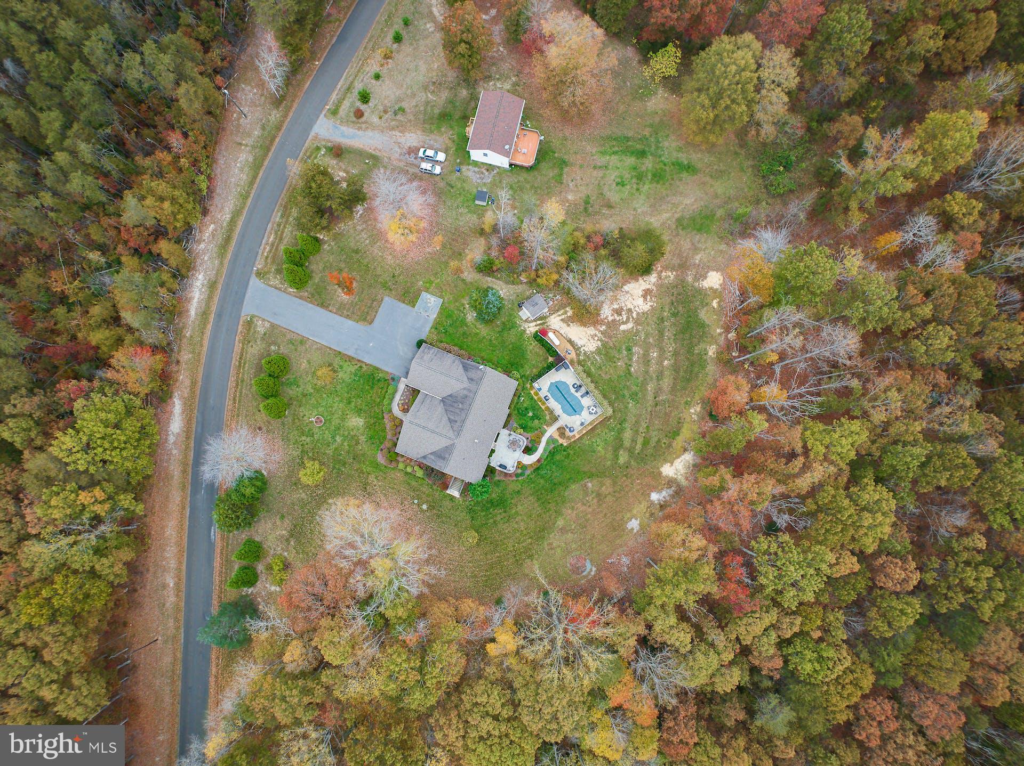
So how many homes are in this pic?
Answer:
2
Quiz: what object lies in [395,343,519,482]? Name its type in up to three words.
house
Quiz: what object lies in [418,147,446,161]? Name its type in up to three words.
car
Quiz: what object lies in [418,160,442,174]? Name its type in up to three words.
car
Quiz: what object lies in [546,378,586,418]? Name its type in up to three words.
swimming pool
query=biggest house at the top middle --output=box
[466,88,526,168]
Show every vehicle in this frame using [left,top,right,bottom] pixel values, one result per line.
[418,147,446,161]
[418,160,442,174]
[516,300,525,308]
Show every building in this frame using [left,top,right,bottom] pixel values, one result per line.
[466,88,526,168]
[395,343,519,482]
[520,294,548,320]
[475,187,488,205]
